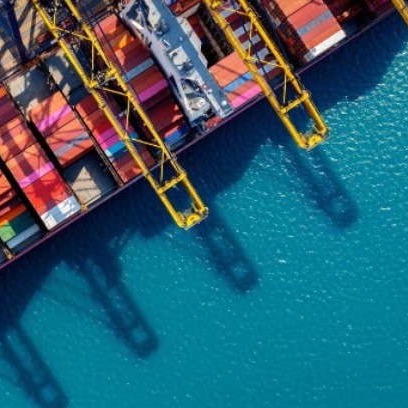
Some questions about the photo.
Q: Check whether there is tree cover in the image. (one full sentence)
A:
No, there's no tree cover in this view.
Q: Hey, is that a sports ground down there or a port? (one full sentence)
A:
It's a port.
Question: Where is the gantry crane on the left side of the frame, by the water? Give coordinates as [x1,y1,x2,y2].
[0,0,214,232]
